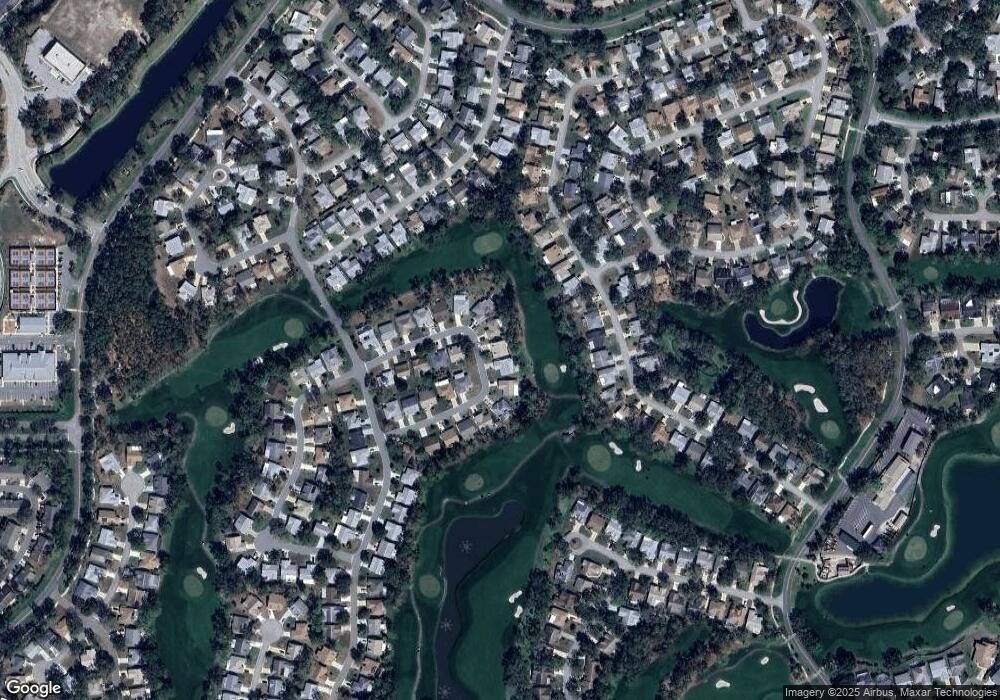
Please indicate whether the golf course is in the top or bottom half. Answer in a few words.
bottom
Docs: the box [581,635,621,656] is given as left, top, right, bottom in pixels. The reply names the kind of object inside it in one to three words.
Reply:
house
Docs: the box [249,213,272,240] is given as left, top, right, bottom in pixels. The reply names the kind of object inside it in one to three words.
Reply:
house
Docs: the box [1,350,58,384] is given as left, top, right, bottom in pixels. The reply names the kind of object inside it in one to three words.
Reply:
building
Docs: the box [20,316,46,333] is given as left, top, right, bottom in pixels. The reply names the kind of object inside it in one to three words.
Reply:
building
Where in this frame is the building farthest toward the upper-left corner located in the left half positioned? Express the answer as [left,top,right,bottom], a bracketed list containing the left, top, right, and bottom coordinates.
[42,42,87,81]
